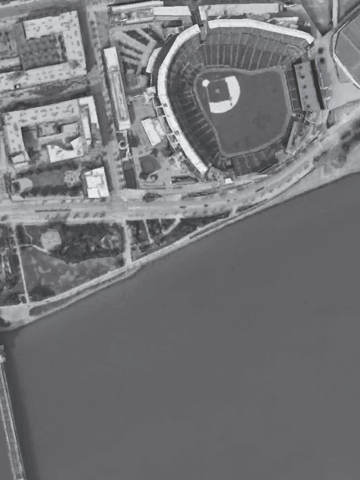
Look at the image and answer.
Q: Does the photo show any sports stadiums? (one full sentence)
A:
Yes, a sports stadium can be made out from above.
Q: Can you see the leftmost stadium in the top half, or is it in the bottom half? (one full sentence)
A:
The leftmost stadium sits in the top half of the picture.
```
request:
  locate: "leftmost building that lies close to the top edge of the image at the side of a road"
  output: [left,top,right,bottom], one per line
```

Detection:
[0,10,86,93]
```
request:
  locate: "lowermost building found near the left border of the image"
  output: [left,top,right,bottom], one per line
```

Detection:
[1,97,98,163]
